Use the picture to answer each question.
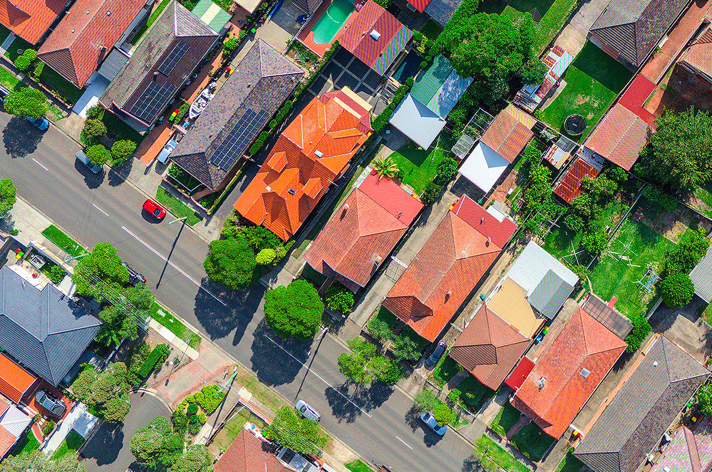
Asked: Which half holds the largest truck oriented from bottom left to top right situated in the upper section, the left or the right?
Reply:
left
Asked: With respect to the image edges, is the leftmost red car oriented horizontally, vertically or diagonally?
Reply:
diagonally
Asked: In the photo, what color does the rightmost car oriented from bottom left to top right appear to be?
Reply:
blue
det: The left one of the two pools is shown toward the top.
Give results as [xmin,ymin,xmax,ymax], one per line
[310,0,357,47]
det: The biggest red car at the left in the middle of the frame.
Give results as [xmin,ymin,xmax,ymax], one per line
[140,196,169,221]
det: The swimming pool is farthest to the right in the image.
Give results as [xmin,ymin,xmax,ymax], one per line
[387,45,426,87]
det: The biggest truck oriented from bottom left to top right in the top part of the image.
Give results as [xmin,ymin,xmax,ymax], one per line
[151,134,183,170]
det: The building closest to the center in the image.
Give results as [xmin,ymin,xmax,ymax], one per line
[303,165,425,293]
